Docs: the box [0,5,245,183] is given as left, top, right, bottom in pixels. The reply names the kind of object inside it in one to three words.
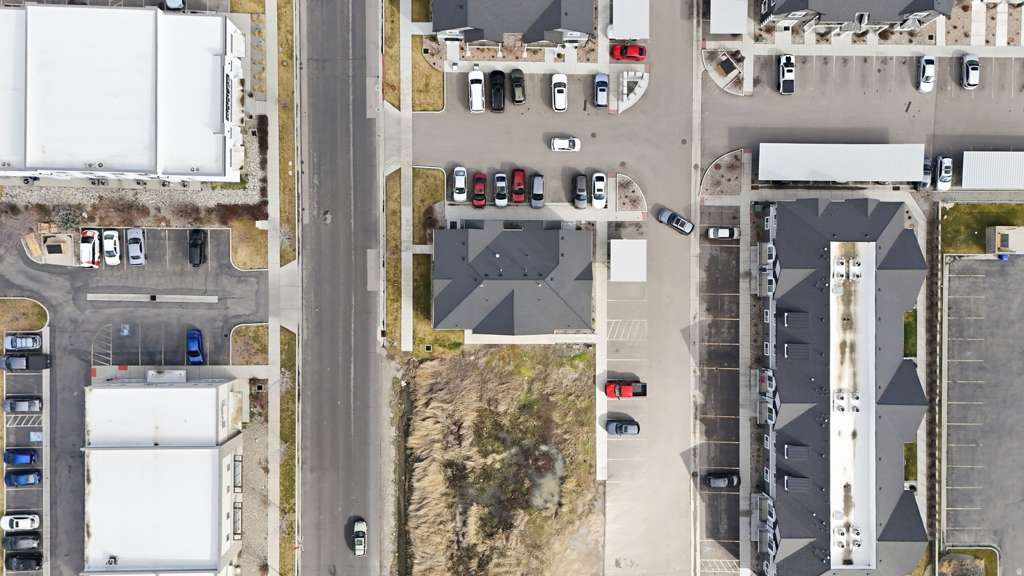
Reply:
building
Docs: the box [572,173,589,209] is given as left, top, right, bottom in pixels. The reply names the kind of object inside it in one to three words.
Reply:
car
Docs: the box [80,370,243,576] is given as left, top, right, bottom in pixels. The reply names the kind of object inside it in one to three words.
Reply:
building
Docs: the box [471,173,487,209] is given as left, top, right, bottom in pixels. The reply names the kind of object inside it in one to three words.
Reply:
car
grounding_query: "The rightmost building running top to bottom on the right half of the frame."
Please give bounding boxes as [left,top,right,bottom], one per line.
[756,197,928,576]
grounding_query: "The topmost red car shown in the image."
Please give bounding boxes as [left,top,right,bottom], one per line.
[610,43,647,62]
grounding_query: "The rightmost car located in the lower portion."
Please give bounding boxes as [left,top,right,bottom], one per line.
[705,472,740,490]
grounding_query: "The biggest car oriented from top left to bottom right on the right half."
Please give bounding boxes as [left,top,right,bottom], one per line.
[657,207,695,237]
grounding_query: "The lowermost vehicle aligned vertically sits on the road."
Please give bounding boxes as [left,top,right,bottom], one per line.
[351,519,368,557]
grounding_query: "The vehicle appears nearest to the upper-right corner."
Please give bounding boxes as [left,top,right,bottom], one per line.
[959,54,981,90]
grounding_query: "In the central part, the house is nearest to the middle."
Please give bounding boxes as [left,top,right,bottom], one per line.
[432,219,594,337]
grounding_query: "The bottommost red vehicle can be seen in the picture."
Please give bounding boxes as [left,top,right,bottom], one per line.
[604,381,648,400]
